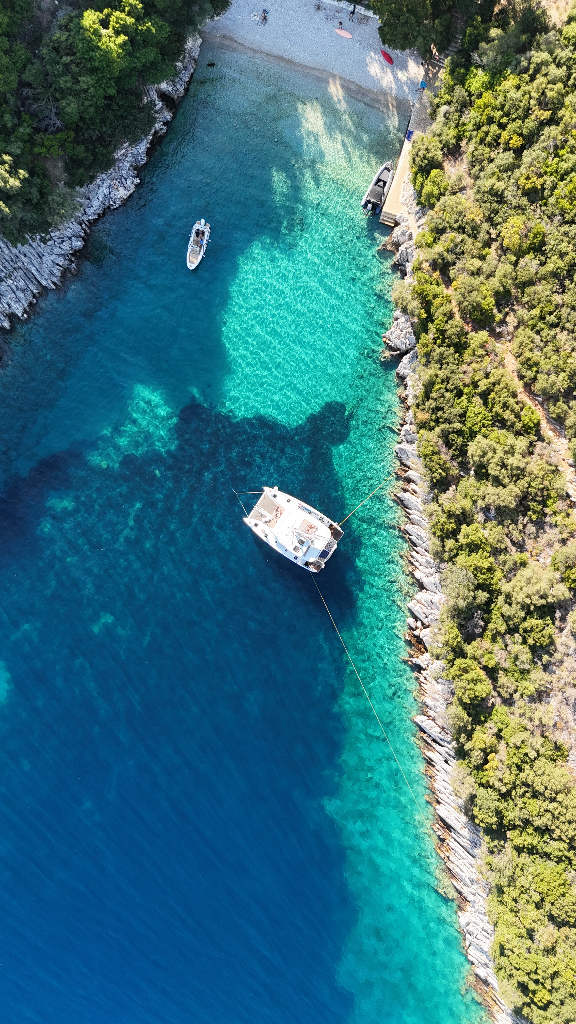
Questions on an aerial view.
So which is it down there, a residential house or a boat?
boat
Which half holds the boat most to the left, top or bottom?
top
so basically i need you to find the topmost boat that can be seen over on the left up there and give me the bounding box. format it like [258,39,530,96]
[185,216,209,269]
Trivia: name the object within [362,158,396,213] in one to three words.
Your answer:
boat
